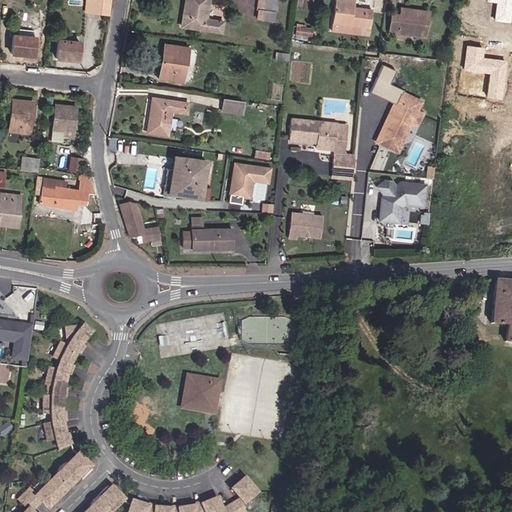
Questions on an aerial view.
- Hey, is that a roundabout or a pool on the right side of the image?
pool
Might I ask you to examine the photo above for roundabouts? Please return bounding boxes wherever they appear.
[64,241,184,330]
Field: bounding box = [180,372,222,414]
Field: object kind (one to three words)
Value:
building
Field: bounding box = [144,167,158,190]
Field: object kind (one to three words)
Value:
swimming pool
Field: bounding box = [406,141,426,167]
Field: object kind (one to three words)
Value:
swimming pool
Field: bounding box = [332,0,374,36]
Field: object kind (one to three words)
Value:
house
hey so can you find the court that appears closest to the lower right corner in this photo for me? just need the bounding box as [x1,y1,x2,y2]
[242,316,294,344]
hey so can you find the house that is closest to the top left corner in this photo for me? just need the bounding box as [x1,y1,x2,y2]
[11,34,38,58]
